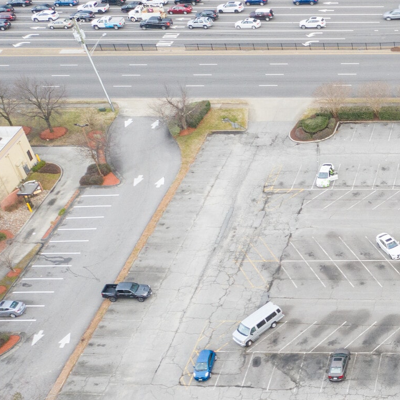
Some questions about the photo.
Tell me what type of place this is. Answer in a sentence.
This looks like a parking lot.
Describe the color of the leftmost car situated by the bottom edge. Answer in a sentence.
The color of the leftmost car situated by the bottom edge is blue.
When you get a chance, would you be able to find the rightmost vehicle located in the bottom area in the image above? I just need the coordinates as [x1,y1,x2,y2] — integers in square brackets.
[375,231,400,258]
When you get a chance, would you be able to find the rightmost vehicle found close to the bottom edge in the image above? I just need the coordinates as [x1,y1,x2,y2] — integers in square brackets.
[326,347,351,383]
